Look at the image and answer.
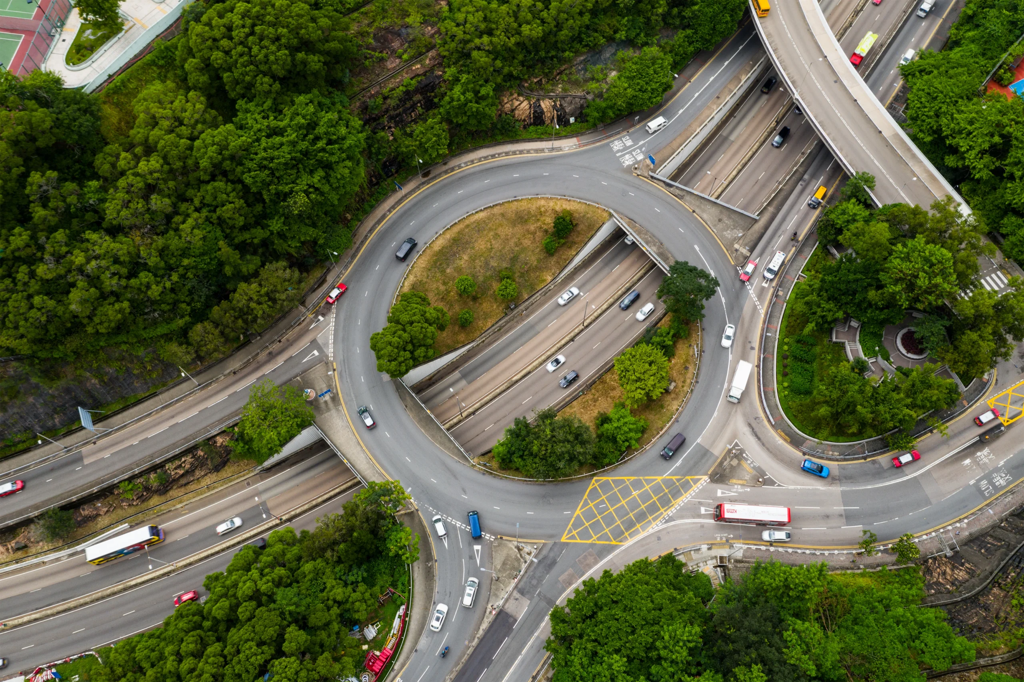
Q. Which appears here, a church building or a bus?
bus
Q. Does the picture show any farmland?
No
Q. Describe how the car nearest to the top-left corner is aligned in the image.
on a diagonal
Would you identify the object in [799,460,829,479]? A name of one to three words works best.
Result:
car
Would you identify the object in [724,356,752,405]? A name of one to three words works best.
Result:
truck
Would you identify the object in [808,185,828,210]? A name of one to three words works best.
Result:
vehicle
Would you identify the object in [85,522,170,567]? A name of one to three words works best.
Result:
bus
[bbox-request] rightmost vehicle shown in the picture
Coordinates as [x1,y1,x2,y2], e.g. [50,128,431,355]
[972,408,1001,428]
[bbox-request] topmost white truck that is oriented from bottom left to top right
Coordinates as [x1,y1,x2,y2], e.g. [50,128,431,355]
[914,0,936,22]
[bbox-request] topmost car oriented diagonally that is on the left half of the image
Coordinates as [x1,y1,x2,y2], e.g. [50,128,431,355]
[395,238,417,263]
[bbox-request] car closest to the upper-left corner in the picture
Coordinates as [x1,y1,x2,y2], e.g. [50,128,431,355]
[325,283,350,306]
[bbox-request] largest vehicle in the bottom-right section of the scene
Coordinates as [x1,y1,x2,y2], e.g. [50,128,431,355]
[711,503,792,527]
